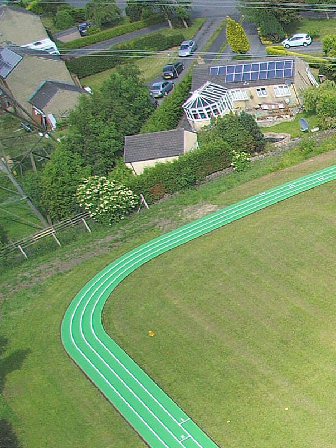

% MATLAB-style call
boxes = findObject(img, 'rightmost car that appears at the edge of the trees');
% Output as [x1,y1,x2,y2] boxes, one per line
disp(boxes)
[281,33,312,48]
